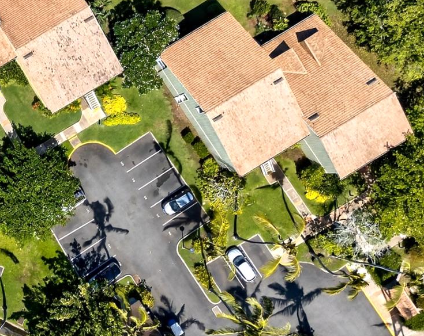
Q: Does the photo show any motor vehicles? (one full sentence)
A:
Yes, the photo shows a motor vehicle.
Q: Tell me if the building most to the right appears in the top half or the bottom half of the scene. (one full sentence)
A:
The building most to the right is in the bottom half of the image.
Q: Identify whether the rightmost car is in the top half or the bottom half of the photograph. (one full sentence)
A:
The bottom half of the photo is where the rightmost car is.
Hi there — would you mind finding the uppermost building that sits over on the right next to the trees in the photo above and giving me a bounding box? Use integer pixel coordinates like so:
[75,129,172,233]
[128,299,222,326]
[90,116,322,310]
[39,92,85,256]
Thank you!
[154,11,413,182]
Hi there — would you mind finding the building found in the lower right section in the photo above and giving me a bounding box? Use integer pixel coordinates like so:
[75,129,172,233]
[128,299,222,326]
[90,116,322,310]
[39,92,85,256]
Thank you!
[375,283,420,320]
